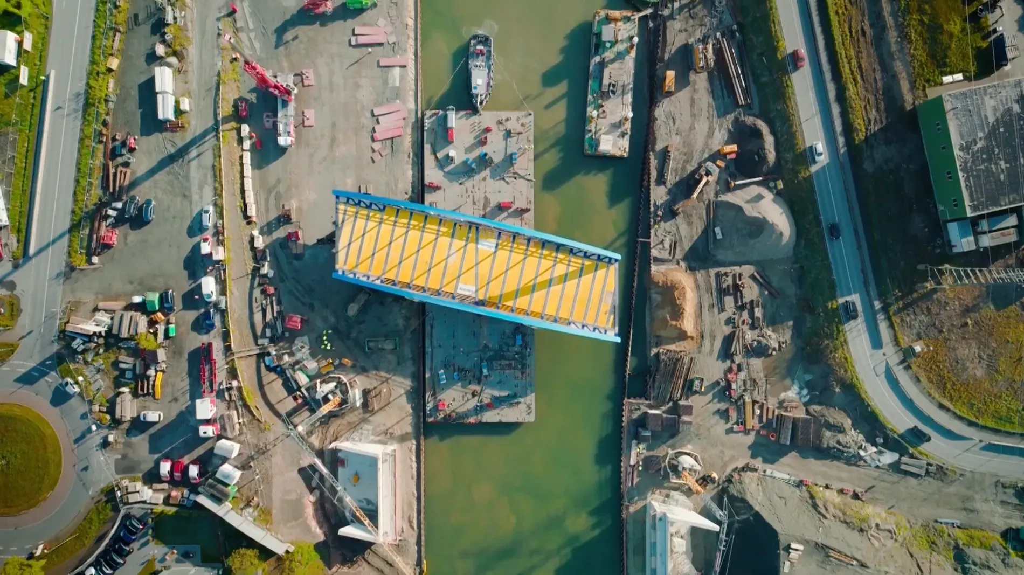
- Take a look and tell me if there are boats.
Yes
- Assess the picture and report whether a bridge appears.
Yes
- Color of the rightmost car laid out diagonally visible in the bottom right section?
black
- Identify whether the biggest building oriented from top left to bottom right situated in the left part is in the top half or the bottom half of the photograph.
bottom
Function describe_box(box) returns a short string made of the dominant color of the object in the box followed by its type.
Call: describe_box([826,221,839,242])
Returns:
black vehicle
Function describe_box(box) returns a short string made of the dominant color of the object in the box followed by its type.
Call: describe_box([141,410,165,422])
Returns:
white vehicle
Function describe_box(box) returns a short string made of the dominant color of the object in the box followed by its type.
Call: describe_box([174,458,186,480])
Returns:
red vehicle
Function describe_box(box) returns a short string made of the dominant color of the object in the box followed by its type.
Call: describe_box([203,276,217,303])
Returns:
white vehicle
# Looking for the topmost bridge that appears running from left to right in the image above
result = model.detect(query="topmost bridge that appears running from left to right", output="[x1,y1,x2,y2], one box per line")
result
[331,189,622,342]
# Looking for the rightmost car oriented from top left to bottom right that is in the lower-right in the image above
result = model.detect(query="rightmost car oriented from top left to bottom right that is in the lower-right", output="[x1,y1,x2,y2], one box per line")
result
[905,423,929,445]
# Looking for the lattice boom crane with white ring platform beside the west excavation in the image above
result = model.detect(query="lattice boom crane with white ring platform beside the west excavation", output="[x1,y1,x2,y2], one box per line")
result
[281,366,418,575]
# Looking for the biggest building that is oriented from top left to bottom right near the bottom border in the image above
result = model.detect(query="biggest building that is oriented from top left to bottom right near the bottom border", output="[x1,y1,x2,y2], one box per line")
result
[196,487,297,554]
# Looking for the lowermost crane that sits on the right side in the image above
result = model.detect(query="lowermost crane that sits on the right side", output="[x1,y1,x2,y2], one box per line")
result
[662,445,740,575]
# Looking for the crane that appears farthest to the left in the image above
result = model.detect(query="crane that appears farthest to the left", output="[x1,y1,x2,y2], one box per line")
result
[221,34,314,147]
